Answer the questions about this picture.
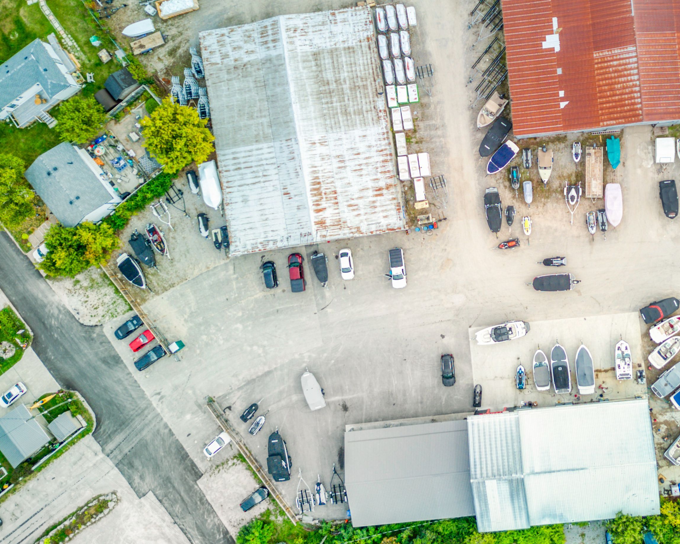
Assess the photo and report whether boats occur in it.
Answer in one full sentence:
Yes, the photo shows a boat.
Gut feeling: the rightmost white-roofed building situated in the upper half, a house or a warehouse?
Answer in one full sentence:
The rightmost white-roofed building situated in the upper half appears to be a warehouse.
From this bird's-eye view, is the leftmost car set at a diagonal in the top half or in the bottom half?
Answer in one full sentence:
The bottom half of the photo is where the leftmost car set at a diagonal is.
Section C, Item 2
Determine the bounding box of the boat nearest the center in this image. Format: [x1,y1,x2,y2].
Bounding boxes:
[312,250,329,286]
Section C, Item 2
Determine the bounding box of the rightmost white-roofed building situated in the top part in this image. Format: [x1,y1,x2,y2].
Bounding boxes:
[198,7,406,255]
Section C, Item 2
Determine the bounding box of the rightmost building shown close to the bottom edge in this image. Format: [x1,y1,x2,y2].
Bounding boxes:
[468,393,658,531]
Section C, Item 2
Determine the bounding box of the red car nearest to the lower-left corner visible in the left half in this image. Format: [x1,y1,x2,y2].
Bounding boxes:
[126,327,159,352]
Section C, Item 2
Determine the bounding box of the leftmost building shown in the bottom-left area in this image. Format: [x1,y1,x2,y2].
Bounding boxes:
[0,400,54,468]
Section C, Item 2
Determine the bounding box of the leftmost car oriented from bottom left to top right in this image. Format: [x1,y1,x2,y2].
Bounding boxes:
[0,379,32,409]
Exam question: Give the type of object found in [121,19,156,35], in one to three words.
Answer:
boat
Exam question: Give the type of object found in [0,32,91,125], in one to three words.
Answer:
house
